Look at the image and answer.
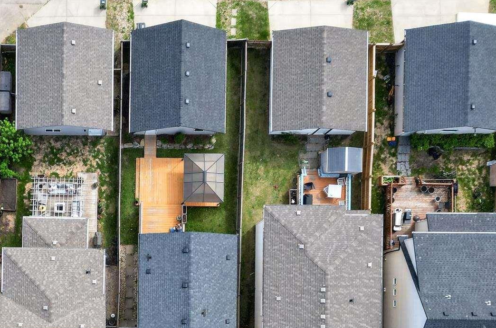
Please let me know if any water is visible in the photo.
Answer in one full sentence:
No, the scene doesn't show any water.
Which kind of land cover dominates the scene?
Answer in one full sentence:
Most of the picture is covered by buildings.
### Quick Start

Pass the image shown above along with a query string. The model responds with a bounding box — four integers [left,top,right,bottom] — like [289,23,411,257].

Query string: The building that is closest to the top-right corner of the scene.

[392,20,496,137]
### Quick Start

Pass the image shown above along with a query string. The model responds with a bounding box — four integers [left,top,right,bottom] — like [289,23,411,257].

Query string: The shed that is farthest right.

[479,162,496,188]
